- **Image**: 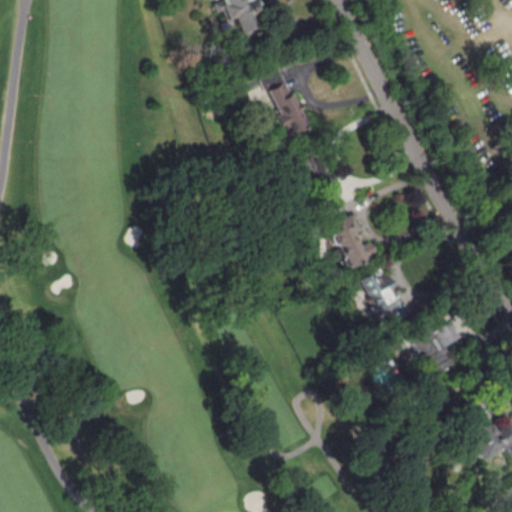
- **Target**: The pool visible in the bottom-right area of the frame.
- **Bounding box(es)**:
[374,366,388,384]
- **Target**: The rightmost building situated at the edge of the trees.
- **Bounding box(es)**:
[482,421,512,464]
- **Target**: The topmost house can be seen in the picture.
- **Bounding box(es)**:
[210,0,267,36]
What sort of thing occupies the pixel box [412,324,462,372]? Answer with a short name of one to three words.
house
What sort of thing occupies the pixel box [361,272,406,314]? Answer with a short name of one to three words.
house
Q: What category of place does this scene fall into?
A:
golf course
